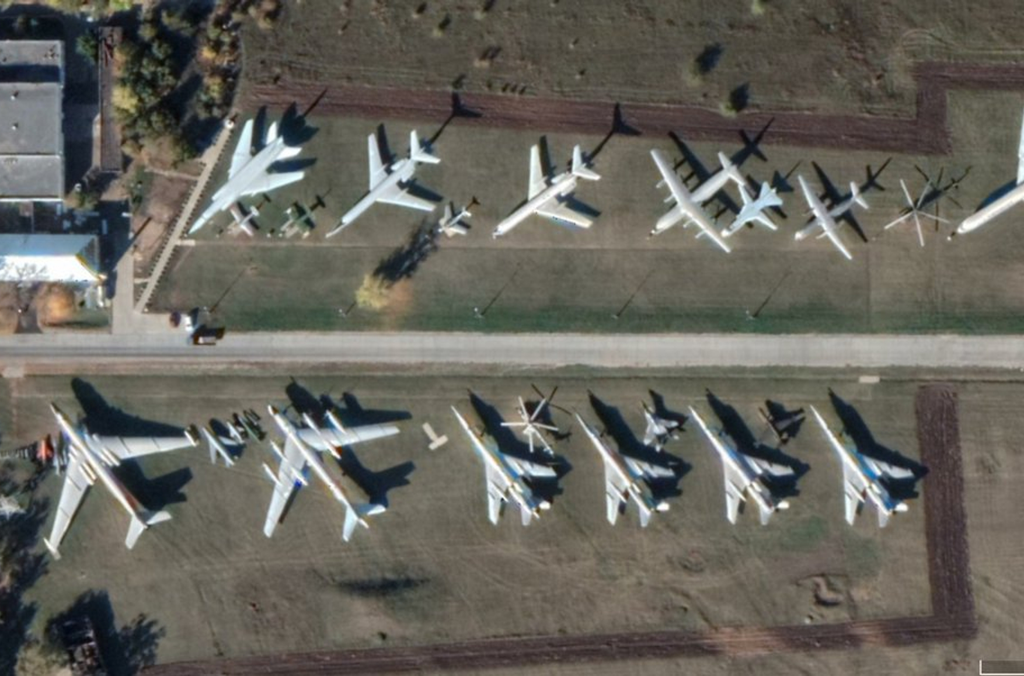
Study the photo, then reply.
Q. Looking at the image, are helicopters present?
Yes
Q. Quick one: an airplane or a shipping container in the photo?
airplane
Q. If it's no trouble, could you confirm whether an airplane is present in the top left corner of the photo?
Yes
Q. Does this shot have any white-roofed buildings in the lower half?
No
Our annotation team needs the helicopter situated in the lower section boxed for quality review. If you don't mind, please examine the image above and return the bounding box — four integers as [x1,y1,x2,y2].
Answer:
[501,397,559,460]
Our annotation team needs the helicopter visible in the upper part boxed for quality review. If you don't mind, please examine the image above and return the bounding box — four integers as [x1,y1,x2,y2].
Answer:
[885,172,963,246]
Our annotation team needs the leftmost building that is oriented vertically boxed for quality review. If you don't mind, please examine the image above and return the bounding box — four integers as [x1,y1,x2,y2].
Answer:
[0,39,65,200]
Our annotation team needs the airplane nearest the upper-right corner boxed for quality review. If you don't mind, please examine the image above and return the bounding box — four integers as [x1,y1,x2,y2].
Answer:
[957,121,1024,232]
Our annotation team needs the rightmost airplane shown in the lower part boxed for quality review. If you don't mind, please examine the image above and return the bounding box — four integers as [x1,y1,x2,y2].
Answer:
[810,405,915,527]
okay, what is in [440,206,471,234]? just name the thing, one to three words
airplane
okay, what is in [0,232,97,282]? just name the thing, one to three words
house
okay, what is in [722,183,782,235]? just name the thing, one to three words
airplane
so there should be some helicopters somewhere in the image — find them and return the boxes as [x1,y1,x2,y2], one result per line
[885,172,963,246]
[501,397,559,460]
